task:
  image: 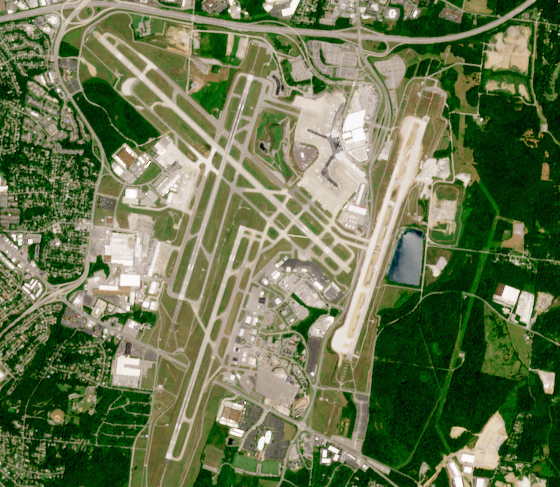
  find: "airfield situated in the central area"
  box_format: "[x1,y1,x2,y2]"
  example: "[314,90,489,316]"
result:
[82,14,428,487]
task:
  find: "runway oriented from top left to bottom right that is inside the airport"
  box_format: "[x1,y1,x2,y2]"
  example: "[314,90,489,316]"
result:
[97,35,347,272]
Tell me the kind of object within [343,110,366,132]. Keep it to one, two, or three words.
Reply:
building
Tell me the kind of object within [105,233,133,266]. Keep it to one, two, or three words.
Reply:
building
